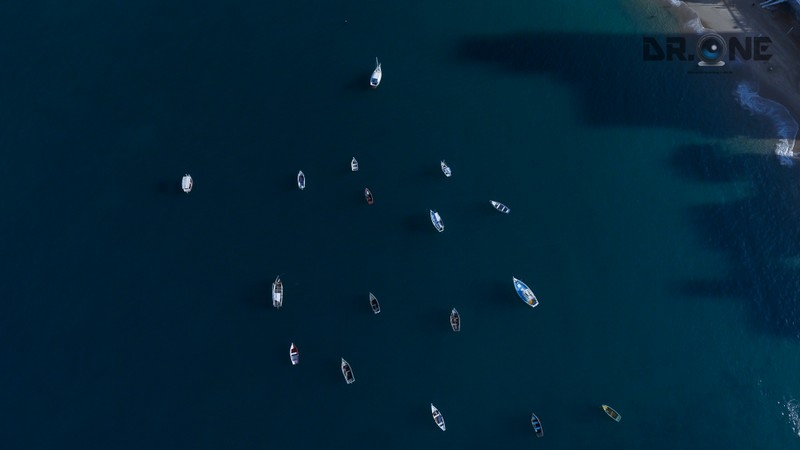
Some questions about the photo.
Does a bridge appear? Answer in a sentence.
No, I find no bridge anywhere in the image.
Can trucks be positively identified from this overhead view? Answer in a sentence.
No, no truck is visible in the view.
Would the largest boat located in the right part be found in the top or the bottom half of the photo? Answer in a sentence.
It is in the bottom half that the largest boat located in the right part appears.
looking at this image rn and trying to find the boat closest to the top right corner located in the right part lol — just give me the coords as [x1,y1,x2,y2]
[489,199,510,213]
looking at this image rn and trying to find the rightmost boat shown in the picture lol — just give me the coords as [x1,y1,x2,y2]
[602,405,622,422]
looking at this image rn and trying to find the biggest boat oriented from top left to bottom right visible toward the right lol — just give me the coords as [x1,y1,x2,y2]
[513,277,539,308]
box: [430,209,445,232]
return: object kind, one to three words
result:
boat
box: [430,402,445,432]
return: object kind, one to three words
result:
boat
